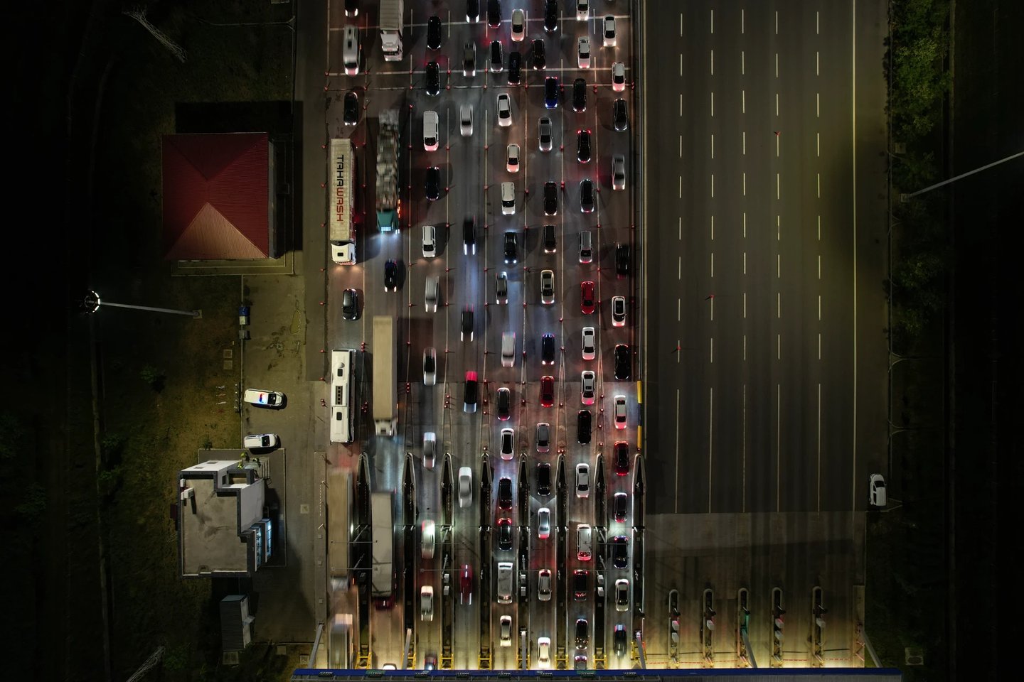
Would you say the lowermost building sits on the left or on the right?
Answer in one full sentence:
It is on the left.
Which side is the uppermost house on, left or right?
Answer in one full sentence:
You can find the uppermost house on the left side of the picture.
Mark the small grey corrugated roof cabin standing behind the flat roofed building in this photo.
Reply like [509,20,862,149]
[220,594,259,656]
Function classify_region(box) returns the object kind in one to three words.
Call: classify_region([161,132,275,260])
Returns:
house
